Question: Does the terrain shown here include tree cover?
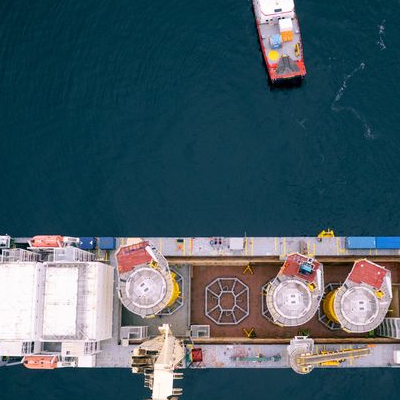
No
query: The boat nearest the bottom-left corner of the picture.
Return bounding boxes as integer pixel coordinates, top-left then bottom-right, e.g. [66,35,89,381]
[18,352,57,369]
